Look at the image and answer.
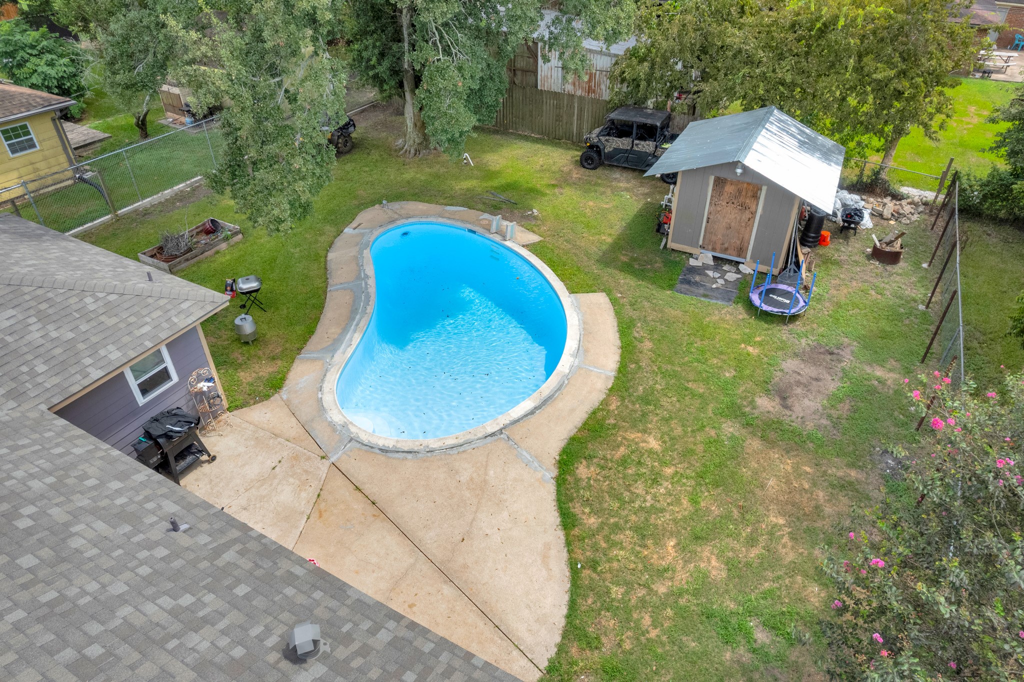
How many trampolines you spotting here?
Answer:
1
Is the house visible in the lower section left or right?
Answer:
left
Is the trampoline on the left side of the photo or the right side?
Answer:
right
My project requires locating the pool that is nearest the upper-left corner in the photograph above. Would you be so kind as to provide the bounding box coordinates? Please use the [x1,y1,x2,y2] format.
[323,216,579,452]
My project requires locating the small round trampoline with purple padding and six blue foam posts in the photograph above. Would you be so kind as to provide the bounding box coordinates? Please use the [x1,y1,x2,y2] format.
[748,251,819,322]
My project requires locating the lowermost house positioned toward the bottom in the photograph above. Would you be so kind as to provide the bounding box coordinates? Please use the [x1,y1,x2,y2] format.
[0,214,525,682]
